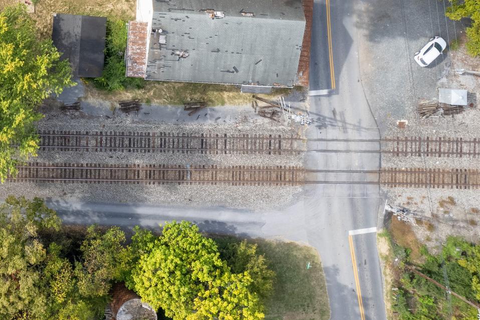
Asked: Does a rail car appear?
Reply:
No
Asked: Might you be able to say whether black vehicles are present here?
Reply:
No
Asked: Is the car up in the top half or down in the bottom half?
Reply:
top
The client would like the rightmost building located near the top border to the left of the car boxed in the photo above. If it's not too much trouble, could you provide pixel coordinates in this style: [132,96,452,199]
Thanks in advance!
[120,0,315,93]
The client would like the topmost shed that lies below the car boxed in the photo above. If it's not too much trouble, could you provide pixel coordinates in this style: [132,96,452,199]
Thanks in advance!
[428,87,467,105]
